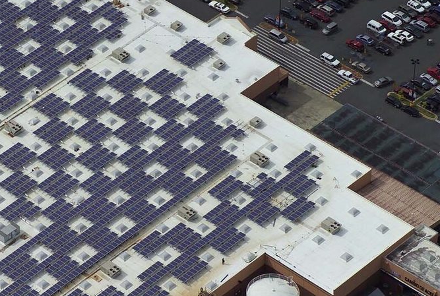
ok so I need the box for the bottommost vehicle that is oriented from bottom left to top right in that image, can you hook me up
[374,74,393,90]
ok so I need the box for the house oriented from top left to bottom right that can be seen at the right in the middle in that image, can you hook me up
[310,103,440,206]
